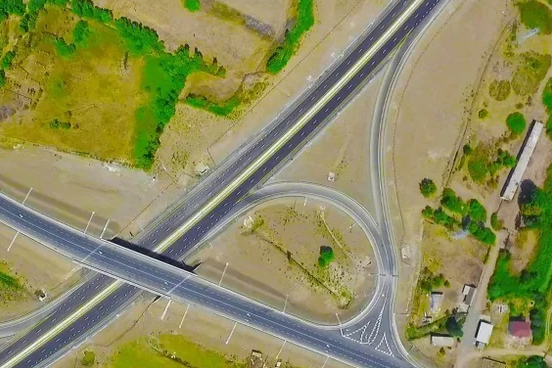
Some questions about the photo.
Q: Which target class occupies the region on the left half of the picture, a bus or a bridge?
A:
bridge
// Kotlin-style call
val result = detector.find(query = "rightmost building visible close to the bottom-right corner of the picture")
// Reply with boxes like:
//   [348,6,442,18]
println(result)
[506,321,532,337]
